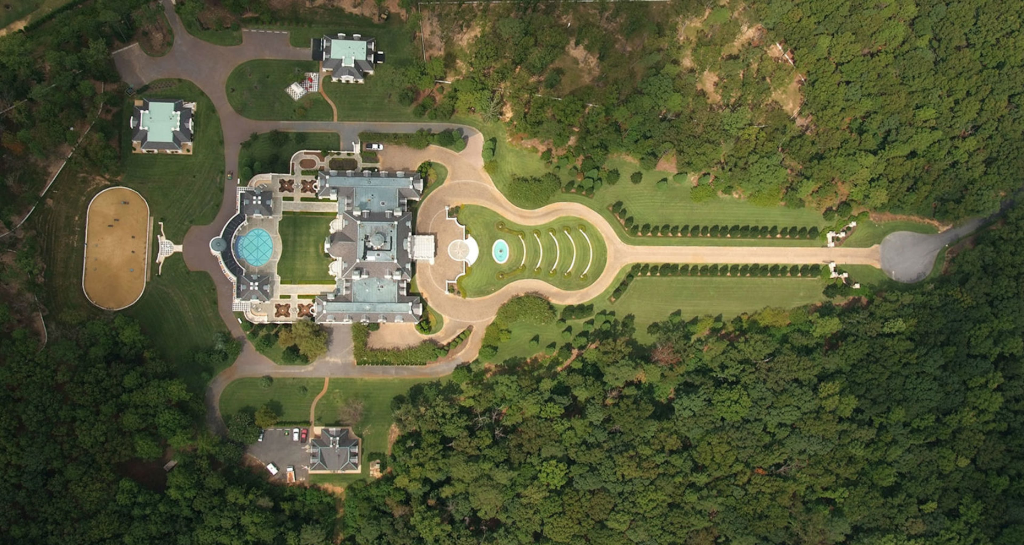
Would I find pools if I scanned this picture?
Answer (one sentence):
Yes, this view includes a pool.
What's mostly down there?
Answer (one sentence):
For the most part, this view shows trees.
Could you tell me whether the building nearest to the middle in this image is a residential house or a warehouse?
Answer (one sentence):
Looking closely, the building nearest to the middle is a residential house.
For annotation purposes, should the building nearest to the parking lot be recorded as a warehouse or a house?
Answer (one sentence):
Specifically, the building nearest to the parking lot is a house.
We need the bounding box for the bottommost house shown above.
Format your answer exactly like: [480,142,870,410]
[308,427,362,475]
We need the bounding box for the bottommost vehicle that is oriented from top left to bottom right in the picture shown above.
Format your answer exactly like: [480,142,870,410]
[266,461,279,477]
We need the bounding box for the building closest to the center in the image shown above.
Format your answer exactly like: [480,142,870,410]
[309,171,436,325]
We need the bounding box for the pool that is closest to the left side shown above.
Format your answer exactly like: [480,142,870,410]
[235,227,273,267]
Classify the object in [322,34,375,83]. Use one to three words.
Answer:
house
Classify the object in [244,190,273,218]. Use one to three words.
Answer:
building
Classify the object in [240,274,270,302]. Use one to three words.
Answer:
building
